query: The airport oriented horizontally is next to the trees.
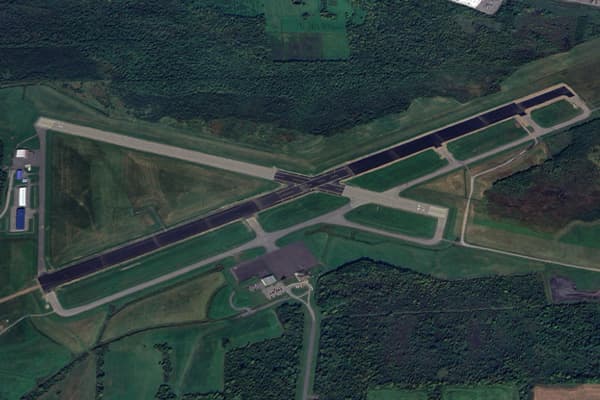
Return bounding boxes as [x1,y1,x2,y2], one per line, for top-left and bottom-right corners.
[10,84,591,317]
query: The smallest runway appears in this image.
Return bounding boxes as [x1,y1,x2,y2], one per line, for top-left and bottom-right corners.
[35,117,448,218]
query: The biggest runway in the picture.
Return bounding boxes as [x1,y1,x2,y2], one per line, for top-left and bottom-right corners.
[37,84,591,294]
